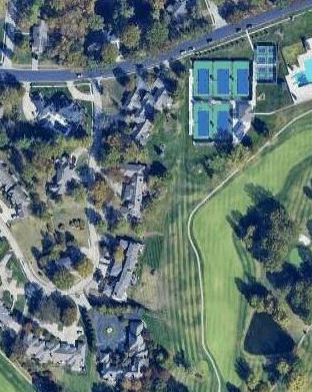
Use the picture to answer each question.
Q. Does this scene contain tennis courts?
Yes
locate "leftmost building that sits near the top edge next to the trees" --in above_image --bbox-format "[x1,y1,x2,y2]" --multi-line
[27,20,50,53]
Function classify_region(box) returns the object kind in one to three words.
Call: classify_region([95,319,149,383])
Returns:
house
